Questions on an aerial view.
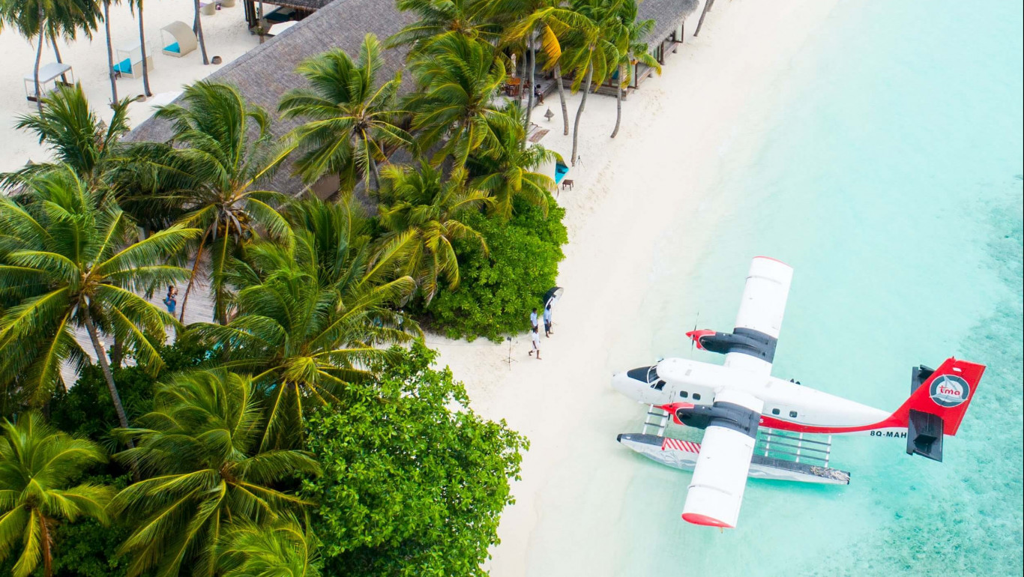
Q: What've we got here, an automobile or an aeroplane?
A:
aeroplane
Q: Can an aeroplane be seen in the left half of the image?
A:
No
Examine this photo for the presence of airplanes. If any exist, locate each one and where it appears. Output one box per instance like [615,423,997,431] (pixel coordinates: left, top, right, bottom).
[610,258,986,525]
